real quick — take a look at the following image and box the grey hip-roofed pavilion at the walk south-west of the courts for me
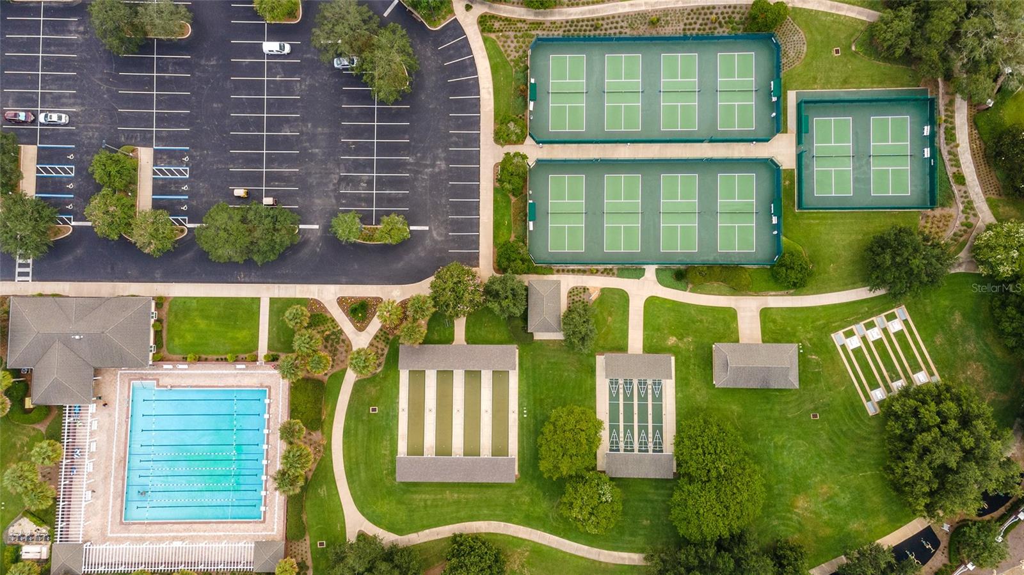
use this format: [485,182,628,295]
[528,280,561,332]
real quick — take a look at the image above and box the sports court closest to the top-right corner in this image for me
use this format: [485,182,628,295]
[869,115,915,195]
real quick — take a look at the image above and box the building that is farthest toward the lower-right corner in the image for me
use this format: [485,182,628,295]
[713,343,799,389]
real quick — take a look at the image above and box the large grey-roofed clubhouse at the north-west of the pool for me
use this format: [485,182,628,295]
[7,297,158,405]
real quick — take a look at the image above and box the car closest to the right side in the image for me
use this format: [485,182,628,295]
[333,55,355,69]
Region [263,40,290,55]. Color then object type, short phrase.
white vehicle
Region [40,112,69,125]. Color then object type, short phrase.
white vehicle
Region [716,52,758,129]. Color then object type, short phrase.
green sports court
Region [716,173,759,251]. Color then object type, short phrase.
green sports court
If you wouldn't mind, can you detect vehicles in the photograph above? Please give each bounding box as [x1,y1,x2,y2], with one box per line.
[263,40,290,55]
[40,112,69,125]
[333,55,355,69]
[234,188,251,198]
[263,197,279,206]
[5,110,35,124]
